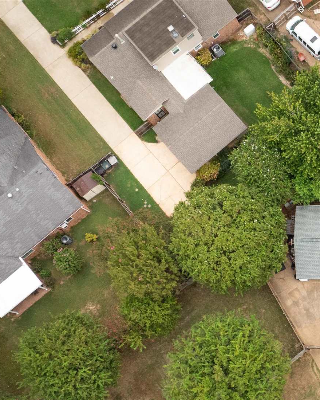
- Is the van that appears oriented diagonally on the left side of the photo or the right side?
right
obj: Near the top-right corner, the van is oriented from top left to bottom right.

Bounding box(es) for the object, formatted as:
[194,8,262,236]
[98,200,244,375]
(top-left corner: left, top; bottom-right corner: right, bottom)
[283,10,320,61]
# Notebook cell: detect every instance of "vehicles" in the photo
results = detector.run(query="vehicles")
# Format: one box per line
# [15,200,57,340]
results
[283,10,320,61]
[256,0,277,12]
